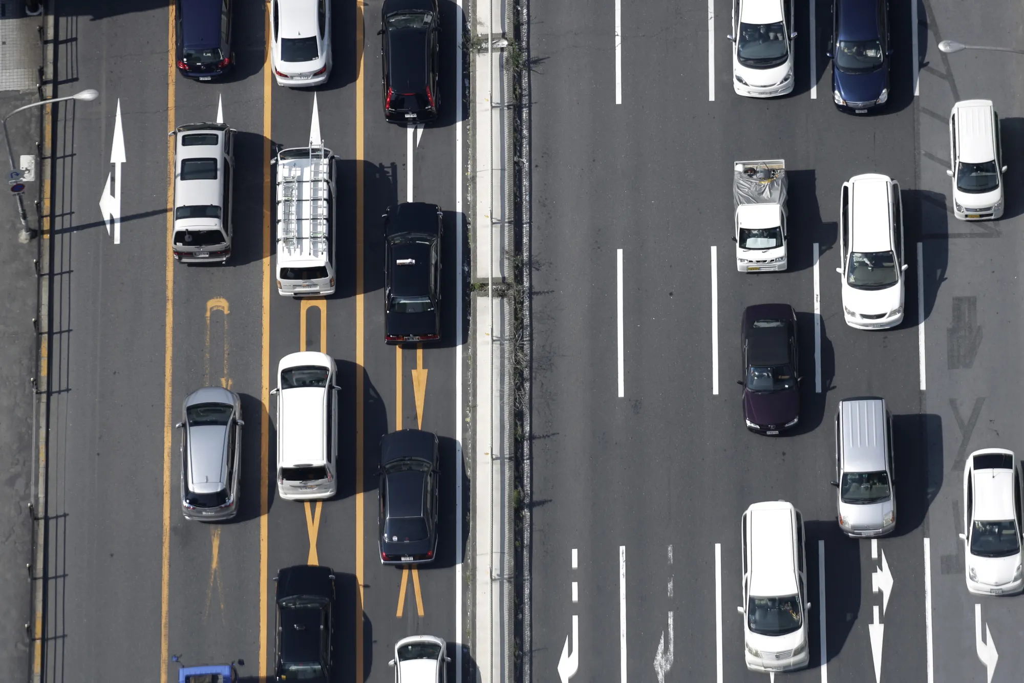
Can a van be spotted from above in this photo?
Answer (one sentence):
Yes, there's a van down there.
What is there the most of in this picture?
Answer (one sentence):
The scene is dominated by paved ground.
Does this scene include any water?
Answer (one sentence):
No, water can't be seen anywhere here.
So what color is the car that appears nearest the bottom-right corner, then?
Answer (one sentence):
In this view, the car that appears nearest the bottom-right corner is white.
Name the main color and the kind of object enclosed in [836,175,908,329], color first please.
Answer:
white car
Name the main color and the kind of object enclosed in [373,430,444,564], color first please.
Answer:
black car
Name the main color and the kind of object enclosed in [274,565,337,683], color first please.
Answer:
black car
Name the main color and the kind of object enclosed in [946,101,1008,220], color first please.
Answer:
white car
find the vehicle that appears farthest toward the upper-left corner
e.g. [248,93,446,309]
[175,0,235,81]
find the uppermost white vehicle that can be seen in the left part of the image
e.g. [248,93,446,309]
[270,0,332,87]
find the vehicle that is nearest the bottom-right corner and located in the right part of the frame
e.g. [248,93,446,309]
[958,449,1024,594]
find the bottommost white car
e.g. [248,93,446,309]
[387,637,453,683]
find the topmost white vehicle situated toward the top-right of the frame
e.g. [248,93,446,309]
[727,0,799,97]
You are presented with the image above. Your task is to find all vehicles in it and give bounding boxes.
[731,203,790,272]
[274,565,337,683]
[175,0,235,81]
[383,203,445,344]
[387,637,453,683]
[272,146,340,296]
[836,175,908,329]
[271,352,341,500]
[946,101,1008,220]
[958,449,1024,594]
[826,0,895,114]
[173,656,244,683]
[176,387,247,520]
[375,0,444,124]
[736,305,805,436]
[373,430,444,564]
[270,0,332,87]
[727,0,799,97]
[170,120,238,263]
[737,499,812,672]
[830,393,901,537]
